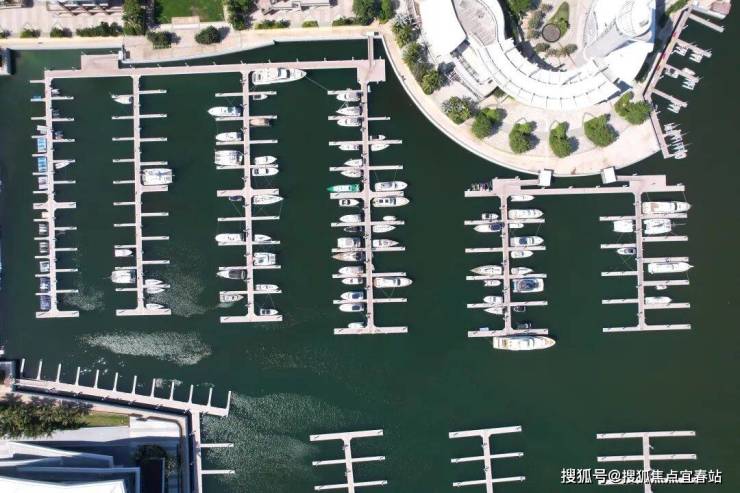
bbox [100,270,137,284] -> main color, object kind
white boat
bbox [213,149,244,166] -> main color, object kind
white boat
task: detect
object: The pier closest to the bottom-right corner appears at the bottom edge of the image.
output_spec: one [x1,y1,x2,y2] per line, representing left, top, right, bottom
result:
[596,430,697,493]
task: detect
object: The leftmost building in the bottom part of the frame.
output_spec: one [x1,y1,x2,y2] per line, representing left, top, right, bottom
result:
[0,435,142,493]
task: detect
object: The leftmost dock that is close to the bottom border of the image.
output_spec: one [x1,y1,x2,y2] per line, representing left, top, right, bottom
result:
[16,359,236,493]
